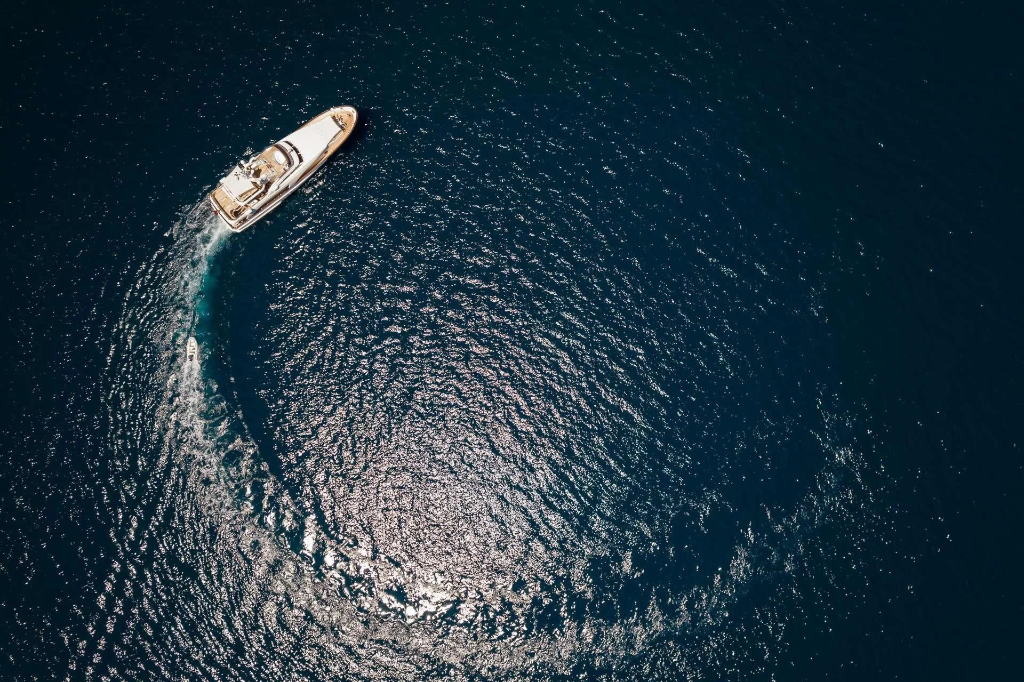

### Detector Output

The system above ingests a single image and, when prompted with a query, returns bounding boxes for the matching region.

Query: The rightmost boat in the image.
[209,105,358,234]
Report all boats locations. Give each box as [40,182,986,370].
[209,105,358,234]
[187,336,197,363]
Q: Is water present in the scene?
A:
Yes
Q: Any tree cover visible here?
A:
No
